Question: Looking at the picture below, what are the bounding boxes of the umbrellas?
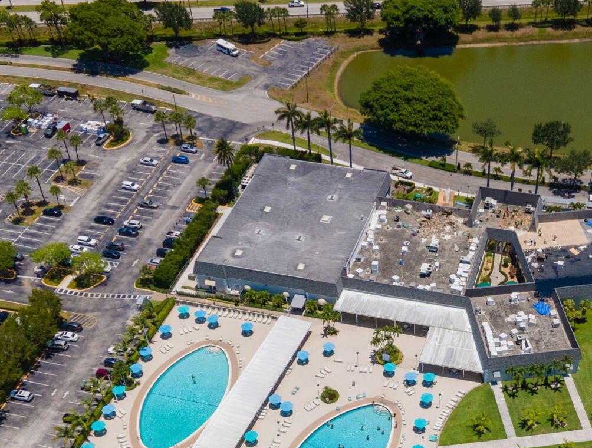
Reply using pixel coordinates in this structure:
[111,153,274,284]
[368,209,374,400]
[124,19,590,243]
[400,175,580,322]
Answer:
[206,317,219,329]
[138,349,151,362]
[241,324,254,337]
[322,344,335,357]
[420,395,433,408]
[159,327,172,340]
[403,374,417,386]
[112,387,125,401]
[101,407,116,420]
[383,364,396,377]
[422,374,435,388]
[413,420,427,434]
[130,365,143,380]
[91,423,106,437]
[243,433,257,447]
[281,402,294,416]
[269,396,282,410]
[296,351,310,364]
[177,307,189,319]
[193,311,206,324]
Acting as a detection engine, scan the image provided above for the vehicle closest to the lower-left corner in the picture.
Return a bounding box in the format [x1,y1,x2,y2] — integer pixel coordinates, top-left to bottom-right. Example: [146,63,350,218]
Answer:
[8,389,35,404]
